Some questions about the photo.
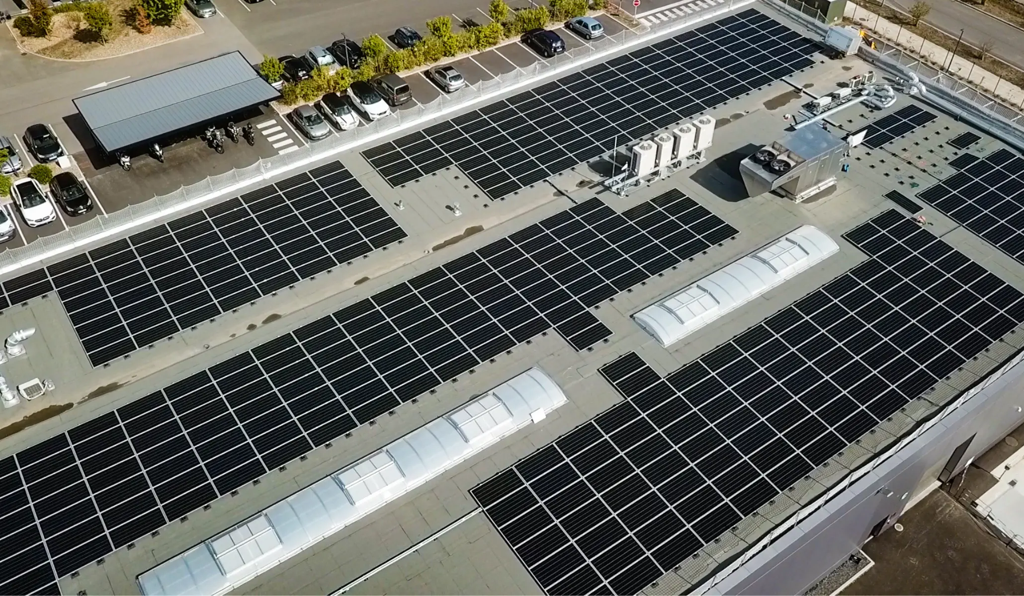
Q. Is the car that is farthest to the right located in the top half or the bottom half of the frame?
top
